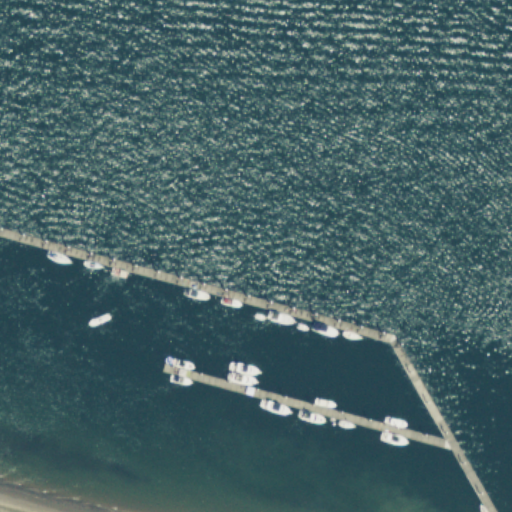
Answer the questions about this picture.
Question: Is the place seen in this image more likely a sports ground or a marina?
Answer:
marina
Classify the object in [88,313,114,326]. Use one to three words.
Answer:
boat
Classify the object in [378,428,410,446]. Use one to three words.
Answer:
boat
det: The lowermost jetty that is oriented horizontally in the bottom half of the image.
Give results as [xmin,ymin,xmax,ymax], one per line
[163,364,446,448]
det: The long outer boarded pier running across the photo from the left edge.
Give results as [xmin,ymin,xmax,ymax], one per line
[0,229,390,342]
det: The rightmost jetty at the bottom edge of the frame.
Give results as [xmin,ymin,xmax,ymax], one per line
[393,346,498,512]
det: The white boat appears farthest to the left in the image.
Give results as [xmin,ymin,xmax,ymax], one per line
[45,252,74,264]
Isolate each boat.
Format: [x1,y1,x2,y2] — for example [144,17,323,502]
[310,319,340,336]
[338,416,358,429]
[219,293,244,308]
[296,410,328,424]
[256,397,294,414]
[266,308,298,325]
[182,286,212,302]
[313,397,338,412]
[378,428,410,446]
[228,362,262,376]
[82,258,106,270]
[110,268,130,279]
[296,322,308,332]
[45,252,74,264]
[341,330,364,340]
[254,312,268,321]
[383,415,408,432]
[88,313,114,326]
[164,356,196,373]
[226,372,258,388]
[168,372,194,384]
